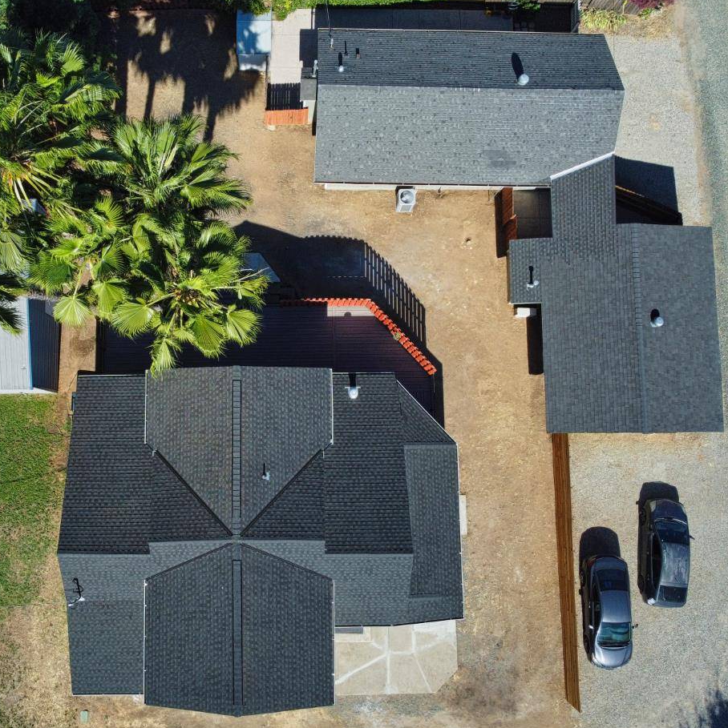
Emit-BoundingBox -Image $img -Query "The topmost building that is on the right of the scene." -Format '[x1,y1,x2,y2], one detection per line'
[296,28,623,194]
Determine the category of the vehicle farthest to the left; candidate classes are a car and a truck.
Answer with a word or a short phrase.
car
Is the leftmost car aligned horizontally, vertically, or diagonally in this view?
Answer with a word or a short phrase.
vertically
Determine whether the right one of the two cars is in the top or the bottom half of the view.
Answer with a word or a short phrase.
bottom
